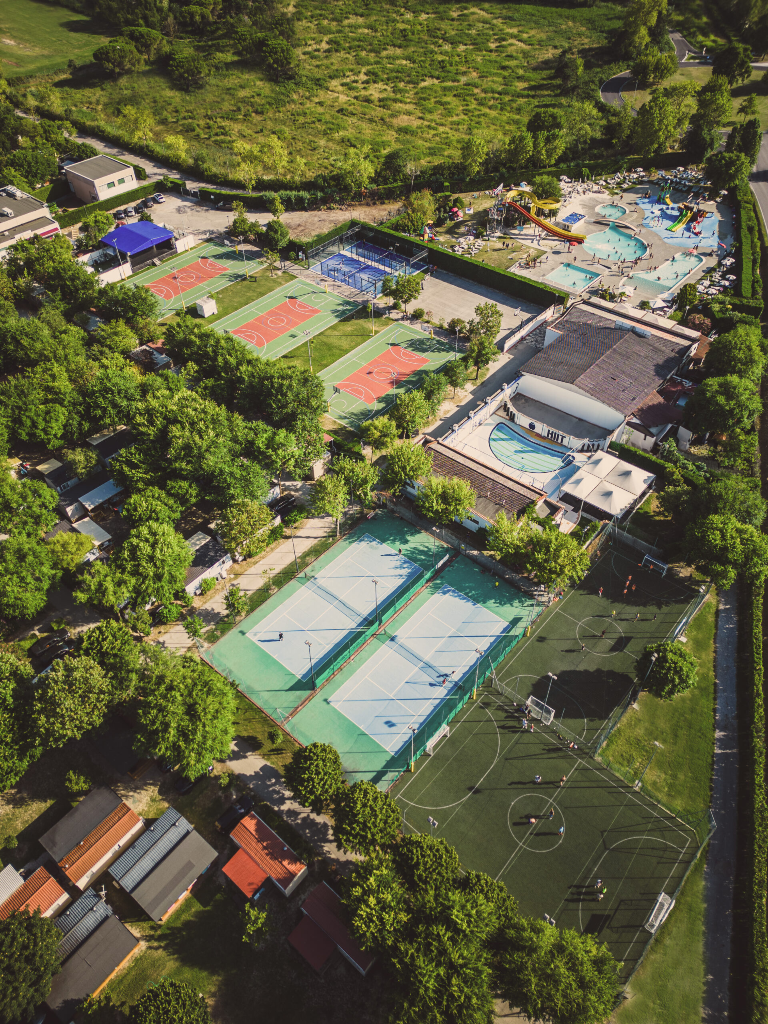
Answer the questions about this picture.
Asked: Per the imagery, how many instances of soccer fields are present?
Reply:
2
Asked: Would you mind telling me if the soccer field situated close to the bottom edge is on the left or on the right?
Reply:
right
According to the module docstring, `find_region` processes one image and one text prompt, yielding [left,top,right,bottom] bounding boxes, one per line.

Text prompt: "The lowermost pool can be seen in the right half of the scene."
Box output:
[488,421,576,474]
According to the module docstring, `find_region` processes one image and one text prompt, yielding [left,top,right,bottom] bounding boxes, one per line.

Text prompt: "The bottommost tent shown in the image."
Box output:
[558,449,656,532]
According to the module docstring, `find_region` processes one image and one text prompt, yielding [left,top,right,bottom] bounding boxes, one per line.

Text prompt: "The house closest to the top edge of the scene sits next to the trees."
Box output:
[63,154,139,200]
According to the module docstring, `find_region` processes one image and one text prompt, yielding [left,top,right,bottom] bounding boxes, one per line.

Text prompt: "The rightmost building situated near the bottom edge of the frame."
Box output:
[288,882,384,977]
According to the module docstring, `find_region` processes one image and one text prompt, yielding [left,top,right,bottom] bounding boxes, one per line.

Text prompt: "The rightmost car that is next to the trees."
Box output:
[404,424,426,439]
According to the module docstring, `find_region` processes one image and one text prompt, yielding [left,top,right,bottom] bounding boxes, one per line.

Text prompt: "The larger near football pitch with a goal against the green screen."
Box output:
[388,678,699,1004]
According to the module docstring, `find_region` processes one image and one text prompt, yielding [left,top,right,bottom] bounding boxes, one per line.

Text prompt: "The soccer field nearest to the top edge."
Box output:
[489,529,703,752]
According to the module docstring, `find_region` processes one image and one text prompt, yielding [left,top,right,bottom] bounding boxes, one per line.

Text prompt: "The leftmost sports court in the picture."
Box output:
[117,241,268,320]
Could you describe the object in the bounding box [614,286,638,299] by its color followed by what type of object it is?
white umbrella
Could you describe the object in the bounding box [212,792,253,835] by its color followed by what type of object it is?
black car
